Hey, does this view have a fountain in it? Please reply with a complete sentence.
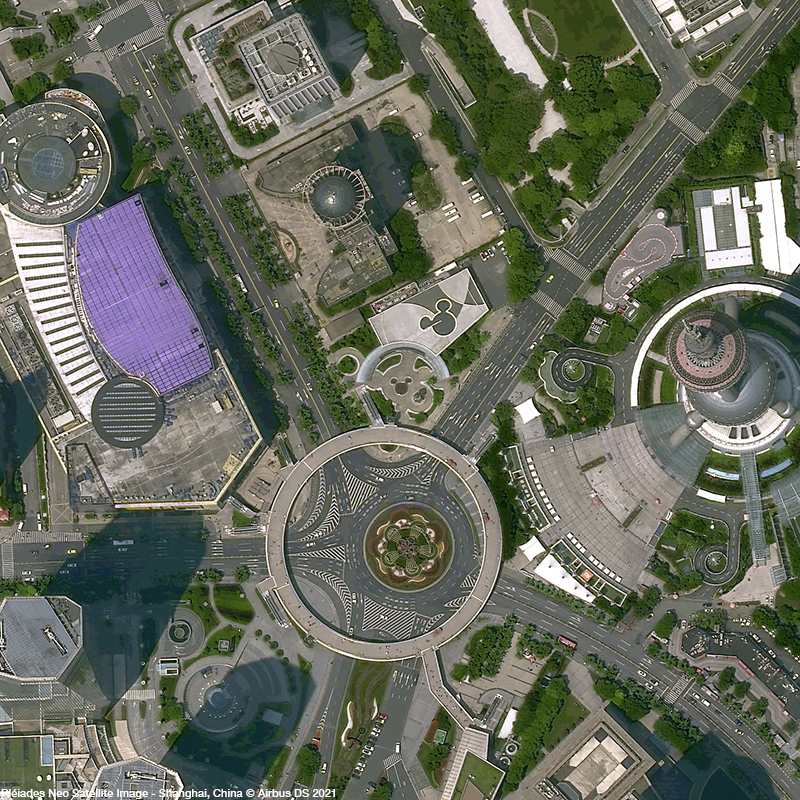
Yes, a fountain appears in the view.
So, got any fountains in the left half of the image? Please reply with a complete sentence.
Yes, the scene does show a fountain in the left half of the image.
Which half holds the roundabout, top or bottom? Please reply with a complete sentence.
The bottom half of the photo is where the roundabout is.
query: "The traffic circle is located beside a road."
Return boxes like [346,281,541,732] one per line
[284,444,484,644]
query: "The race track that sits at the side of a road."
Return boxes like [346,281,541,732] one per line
[602,220,684,306]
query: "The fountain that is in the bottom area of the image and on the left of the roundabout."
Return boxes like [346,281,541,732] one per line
[157,607,207,657]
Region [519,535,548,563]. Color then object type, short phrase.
white tent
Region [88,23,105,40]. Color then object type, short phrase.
white vehicle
